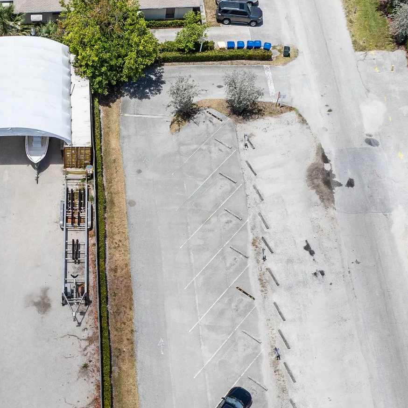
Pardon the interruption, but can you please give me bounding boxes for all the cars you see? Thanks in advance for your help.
[219,386,255,408]
[214,0,258,9]
[217,2,262,30]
